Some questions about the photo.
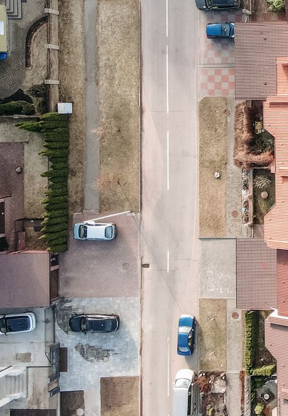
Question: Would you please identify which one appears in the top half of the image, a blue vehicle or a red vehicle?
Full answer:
There is a blue vehicle in the top half of the image.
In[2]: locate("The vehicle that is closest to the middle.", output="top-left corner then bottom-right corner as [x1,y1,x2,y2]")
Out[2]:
[75,221,119,242]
